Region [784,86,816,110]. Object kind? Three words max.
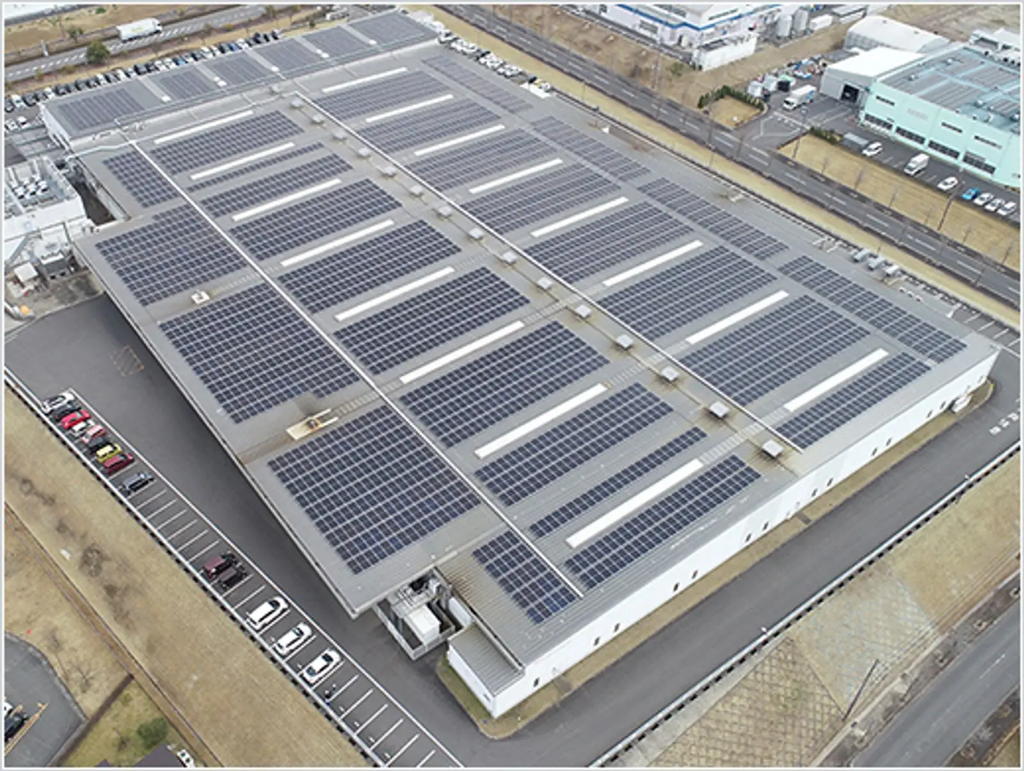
truck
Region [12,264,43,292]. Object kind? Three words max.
building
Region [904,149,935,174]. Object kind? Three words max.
vehicle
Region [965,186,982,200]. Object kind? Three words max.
car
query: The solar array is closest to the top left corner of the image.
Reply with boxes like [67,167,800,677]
[58,87,144,128]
